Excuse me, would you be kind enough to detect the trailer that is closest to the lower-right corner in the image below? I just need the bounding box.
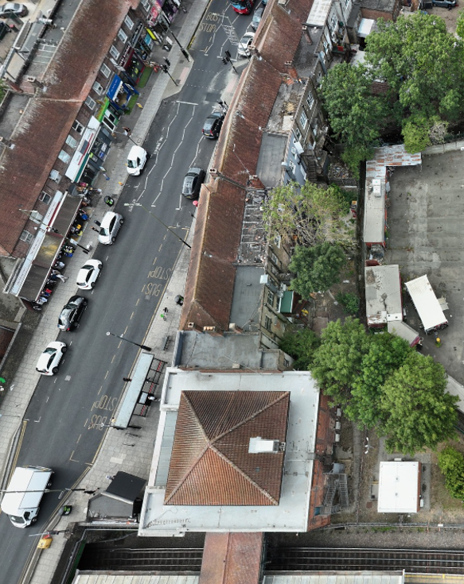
[404,275,452,336]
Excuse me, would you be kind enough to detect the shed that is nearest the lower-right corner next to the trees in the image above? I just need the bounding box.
[378,457,424,512]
